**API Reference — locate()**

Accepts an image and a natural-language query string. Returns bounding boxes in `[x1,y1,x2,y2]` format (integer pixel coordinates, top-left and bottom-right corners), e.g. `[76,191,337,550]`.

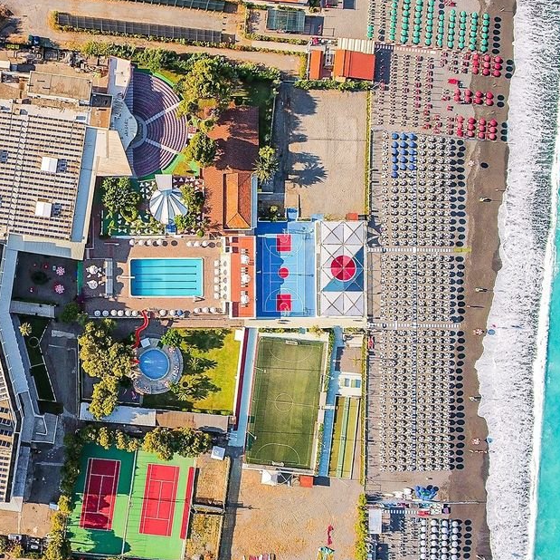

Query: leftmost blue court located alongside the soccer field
[258,223,315,317]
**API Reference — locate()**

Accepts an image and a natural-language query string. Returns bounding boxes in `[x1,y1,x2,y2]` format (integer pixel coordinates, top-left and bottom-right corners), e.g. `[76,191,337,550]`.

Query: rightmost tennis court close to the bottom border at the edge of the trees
[139,463,180,537]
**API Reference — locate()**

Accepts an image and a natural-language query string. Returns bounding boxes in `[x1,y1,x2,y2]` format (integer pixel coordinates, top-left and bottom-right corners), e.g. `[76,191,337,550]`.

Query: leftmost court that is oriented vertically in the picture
[80,457,121,530]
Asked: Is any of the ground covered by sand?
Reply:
Yes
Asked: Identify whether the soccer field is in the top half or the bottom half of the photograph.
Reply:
bottom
